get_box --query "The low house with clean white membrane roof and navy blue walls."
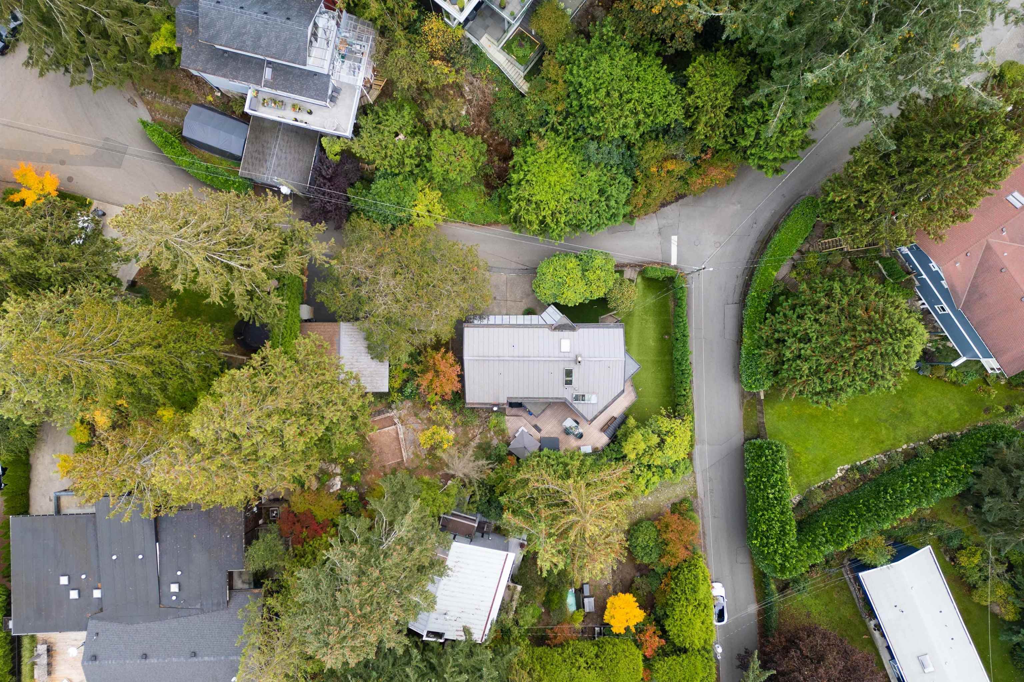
[845,540,992,682]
